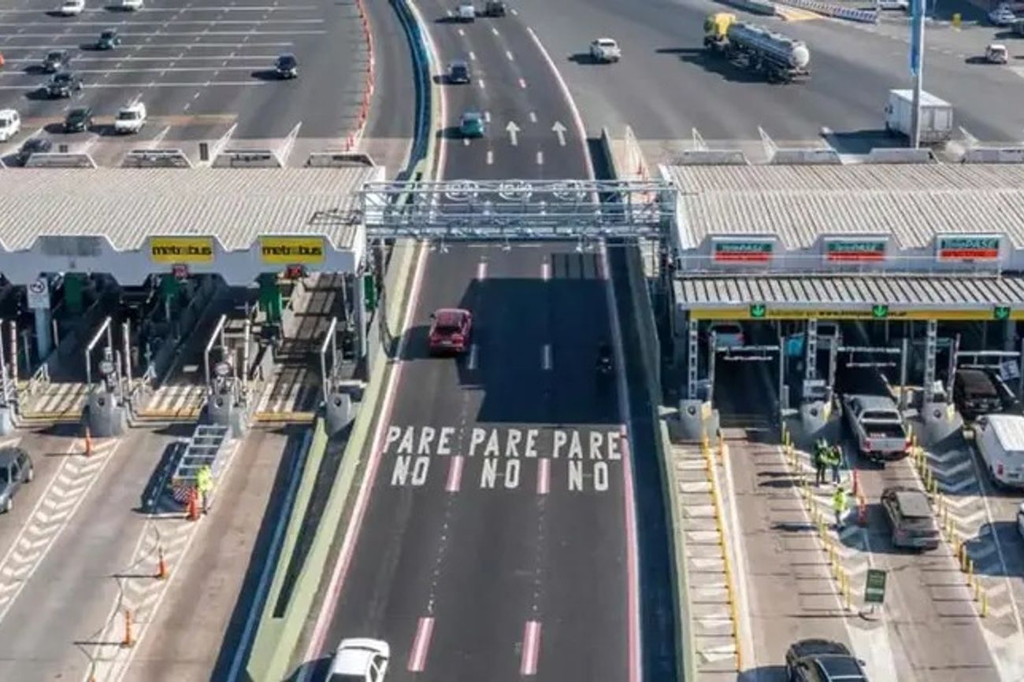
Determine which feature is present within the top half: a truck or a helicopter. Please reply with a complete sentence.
The feature located within the top half is a truck.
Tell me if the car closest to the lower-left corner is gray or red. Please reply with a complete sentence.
The car closest to the lower-left corner is gray.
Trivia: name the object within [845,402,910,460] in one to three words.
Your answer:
truck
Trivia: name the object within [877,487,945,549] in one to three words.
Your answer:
car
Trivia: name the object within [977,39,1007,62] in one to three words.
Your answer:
vehicle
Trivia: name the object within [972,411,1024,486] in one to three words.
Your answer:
van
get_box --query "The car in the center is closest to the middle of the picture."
[431,311,474,350]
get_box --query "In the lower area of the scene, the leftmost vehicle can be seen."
[0,451,38,515]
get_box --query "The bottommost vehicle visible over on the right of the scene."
[786,639,872,682]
